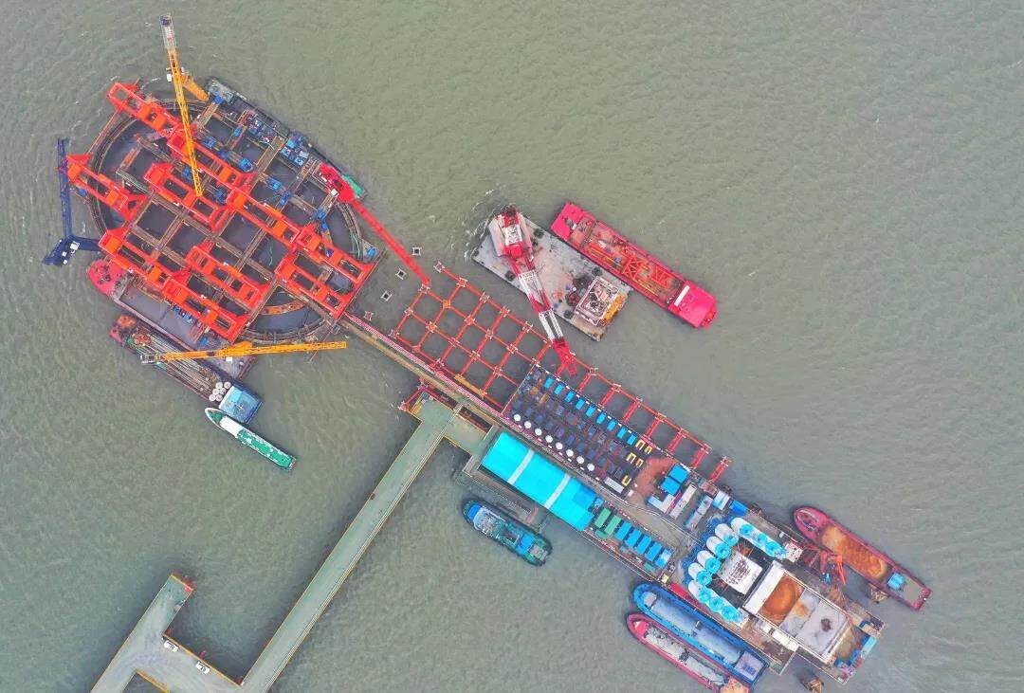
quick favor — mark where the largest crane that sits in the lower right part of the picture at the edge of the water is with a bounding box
[803,543,846,588]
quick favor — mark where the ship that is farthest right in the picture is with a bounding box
[792,508,936,613]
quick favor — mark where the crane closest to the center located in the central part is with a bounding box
[497,203,583,387]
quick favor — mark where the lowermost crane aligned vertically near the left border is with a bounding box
[41,138,103,268]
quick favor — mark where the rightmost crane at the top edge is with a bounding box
[159,17,216,195]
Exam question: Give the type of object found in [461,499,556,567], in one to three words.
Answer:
boat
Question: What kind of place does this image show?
port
